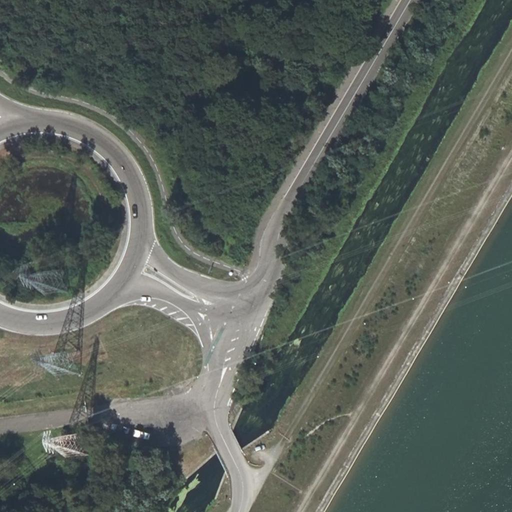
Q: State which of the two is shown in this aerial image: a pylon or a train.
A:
pylon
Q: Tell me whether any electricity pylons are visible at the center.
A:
No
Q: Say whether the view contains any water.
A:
Yes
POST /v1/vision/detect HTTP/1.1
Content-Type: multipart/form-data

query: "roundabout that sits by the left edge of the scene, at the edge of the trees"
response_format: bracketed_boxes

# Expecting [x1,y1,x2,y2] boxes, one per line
[0,108,154,336]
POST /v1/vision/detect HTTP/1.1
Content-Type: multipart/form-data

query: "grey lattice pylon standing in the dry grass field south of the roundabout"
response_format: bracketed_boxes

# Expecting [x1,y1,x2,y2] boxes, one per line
[34,348,82,380]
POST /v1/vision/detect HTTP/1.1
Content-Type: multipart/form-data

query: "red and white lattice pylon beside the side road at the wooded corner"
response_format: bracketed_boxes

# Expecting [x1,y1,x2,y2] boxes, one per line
[42,432,84,461]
